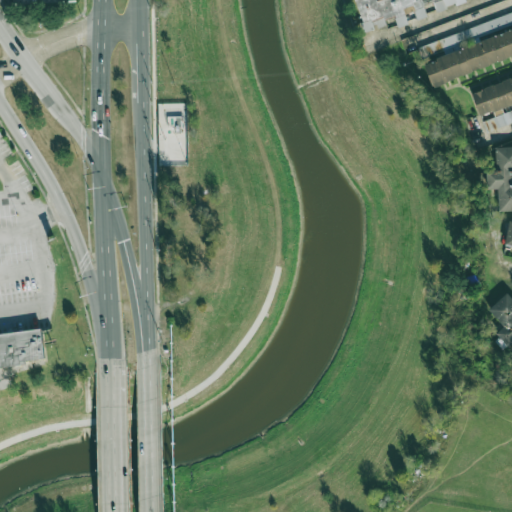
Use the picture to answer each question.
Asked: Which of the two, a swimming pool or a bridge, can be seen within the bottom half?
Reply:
bridge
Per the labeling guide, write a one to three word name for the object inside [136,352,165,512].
bridge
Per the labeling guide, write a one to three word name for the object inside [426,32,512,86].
building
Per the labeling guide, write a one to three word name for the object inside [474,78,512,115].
building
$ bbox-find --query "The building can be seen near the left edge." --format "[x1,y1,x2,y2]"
[0,329,45,370]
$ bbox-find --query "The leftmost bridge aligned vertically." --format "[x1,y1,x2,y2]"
[96,364,130,512]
